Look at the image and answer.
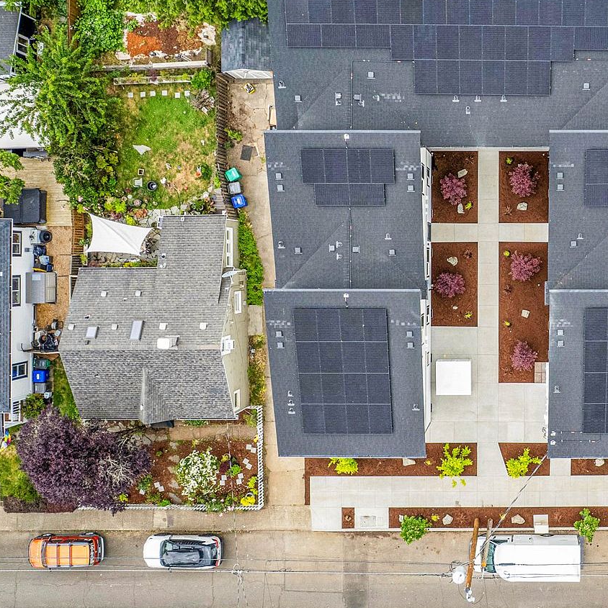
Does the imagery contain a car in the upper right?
No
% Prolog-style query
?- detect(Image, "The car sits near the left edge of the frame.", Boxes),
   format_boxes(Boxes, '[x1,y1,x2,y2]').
[29,530,108,572]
